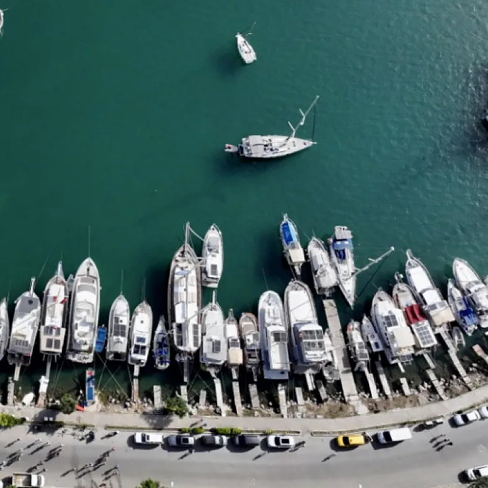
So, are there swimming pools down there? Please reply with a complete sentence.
No, no swimming pool is visible in the scene.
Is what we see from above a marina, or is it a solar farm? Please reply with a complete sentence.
This image shows a marina.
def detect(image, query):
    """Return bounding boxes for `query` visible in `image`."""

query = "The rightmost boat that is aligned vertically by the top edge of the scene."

[238,23,255,67]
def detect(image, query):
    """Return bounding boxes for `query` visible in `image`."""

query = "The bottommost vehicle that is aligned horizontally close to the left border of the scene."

[10,471,46,487]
